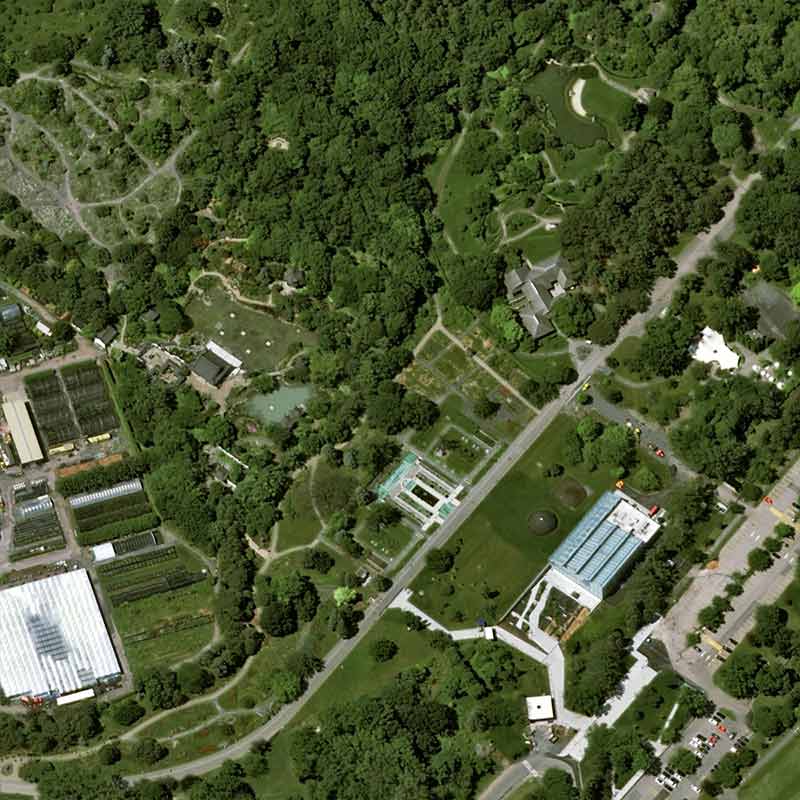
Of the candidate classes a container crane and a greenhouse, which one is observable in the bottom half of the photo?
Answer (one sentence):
The feature located in the bottom half of the photo is a greenhouse.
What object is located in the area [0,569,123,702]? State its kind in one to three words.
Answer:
greenhouse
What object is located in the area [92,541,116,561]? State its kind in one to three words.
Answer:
shed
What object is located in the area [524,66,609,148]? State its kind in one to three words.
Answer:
pond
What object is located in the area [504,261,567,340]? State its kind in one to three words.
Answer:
building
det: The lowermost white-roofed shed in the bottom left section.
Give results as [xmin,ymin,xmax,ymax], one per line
[56,688,96,705]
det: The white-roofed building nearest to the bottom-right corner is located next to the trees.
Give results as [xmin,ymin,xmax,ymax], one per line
[526,695,553,720]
